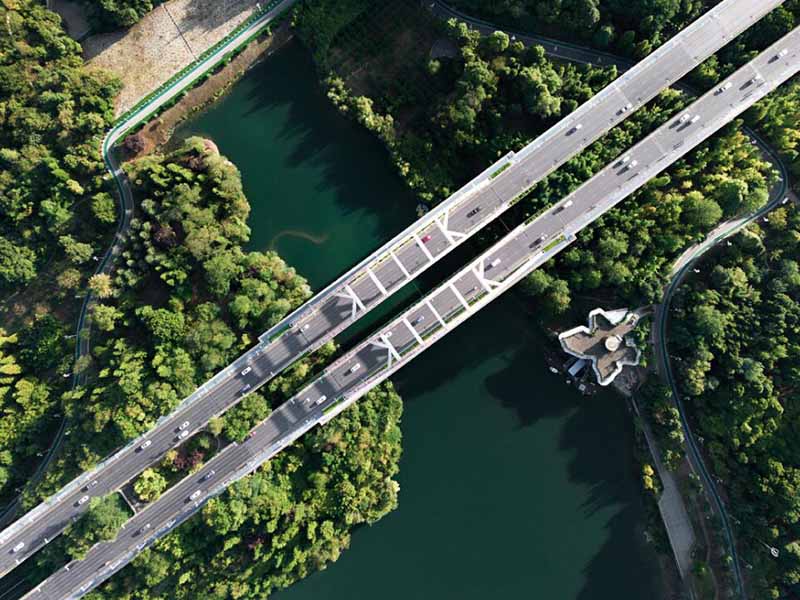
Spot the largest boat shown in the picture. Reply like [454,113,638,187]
[564,358,586,379]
